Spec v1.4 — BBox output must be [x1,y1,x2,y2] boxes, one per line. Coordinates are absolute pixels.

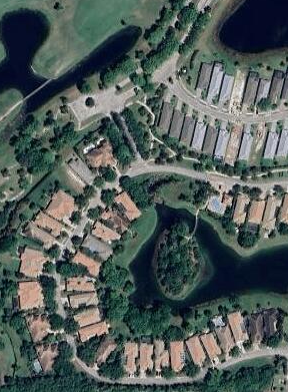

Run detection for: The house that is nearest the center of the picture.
[114,192,141,221]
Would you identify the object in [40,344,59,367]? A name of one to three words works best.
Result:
house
